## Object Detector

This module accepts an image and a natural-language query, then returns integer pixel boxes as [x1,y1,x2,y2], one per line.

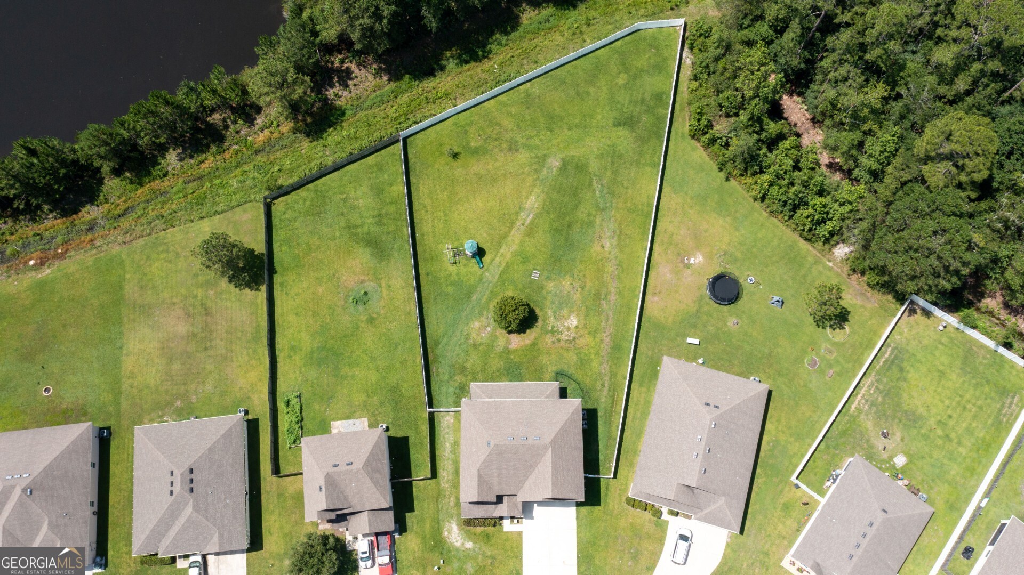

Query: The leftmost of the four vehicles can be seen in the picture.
[186,552,206,575]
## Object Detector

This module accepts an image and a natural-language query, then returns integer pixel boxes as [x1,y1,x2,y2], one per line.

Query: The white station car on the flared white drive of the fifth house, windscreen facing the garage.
[670,526,693,566]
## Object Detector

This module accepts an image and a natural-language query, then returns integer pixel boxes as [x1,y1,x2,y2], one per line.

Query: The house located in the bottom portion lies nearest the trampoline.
[628,355,770,535]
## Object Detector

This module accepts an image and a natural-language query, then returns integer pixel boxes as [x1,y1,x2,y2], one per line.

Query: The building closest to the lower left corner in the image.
[0,422,99,575]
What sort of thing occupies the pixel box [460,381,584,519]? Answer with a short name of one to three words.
house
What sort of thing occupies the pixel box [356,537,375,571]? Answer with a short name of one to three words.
car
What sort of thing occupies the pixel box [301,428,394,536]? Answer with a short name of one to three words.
house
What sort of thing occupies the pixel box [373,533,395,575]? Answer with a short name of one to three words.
truck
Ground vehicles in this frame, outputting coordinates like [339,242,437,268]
[373,533,395,575]
[356,537,375,571]
[670,526,693,566]
[186,552,206,575]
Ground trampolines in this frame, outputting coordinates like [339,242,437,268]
[705,273,743,309]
